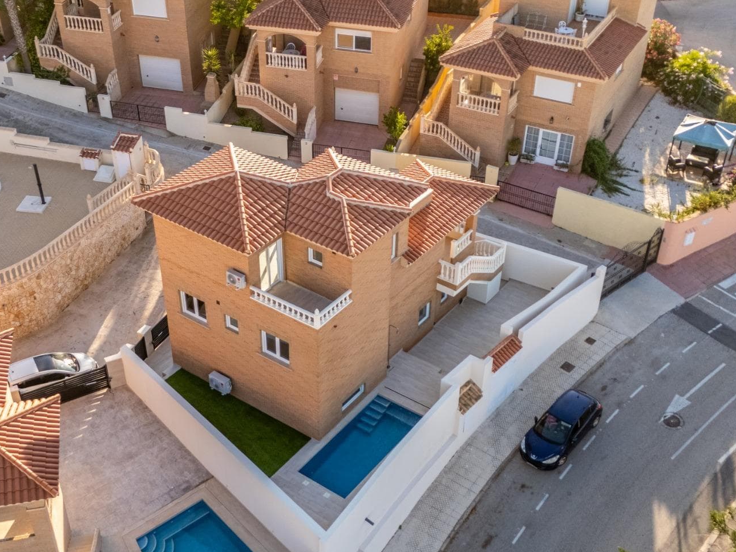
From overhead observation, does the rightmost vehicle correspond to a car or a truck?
car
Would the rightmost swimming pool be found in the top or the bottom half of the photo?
bottom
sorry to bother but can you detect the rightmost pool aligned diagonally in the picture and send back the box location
[298,395,423,497]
